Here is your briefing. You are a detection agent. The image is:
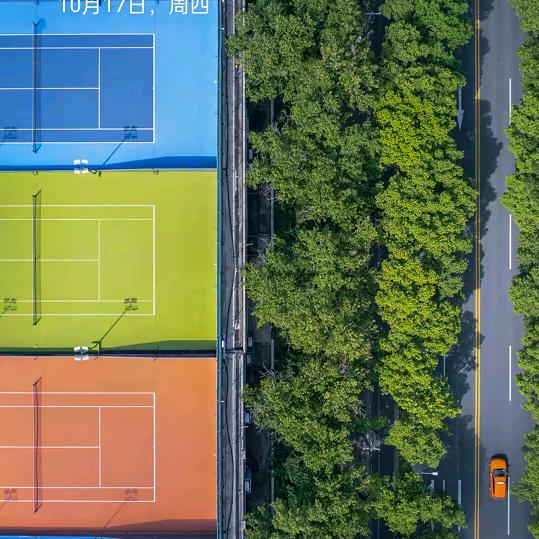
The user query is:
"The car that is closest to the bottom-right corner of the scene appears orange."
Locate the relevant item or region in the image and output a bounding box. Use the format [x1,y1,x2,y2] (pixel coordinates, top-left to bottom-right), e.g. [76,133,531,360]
[488,457,510,500]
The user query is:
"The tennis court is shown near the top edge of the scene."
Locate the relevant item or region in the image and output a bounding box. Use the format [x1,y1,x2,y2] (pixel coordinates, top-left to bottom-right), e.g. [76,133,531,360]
[0,1,216,170]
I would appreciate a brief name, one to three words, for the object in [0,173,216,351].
tennis court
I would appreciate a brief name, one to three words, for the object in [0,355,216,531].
tennis court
